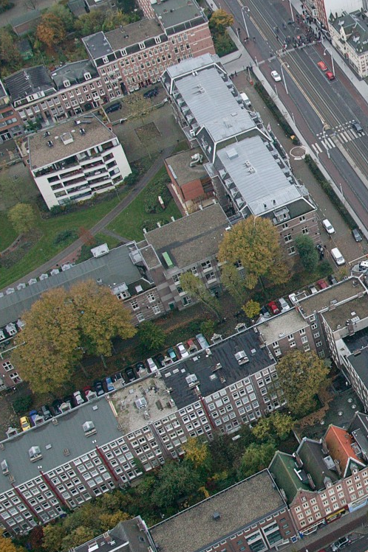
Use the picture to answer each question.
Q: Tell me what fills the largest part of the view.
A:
buildings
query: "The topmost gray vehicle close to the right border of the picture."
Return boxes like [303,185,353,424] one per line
[351,119,363,134]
